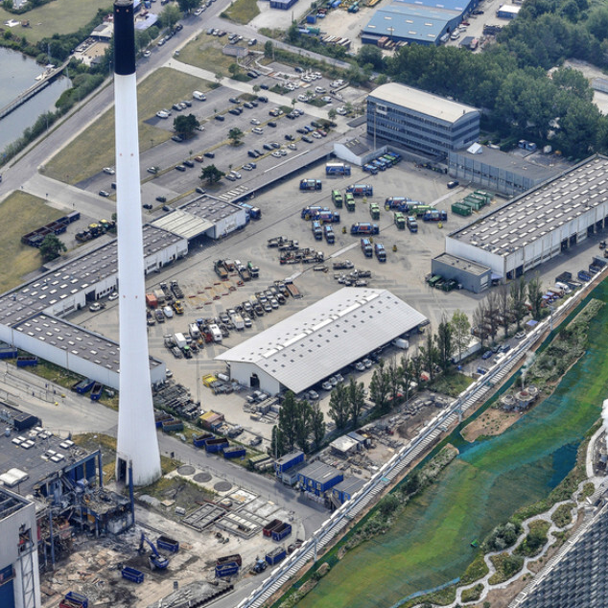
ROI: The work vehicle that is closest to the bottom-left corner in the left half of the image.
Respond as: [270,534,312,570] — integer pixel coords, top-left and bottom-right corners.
[142,525,170,569]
